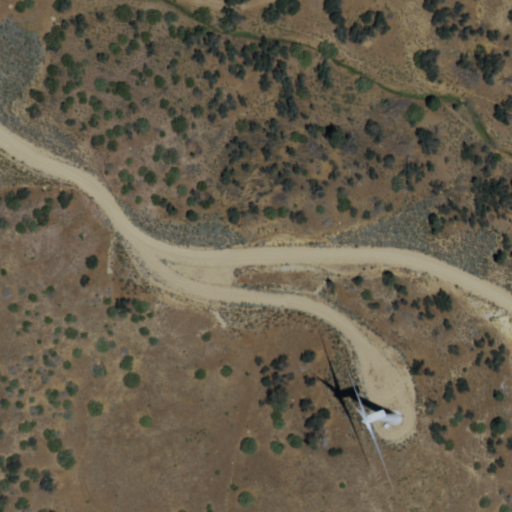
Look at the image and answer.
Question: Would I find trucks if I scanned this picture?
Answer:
No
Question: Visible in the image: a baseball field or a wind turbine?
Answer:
wind turbine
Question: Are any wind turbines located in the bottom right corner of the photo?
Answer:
Yes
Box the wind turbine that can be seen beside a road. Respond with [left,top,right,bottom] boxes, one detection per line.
[345,360,403,492]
